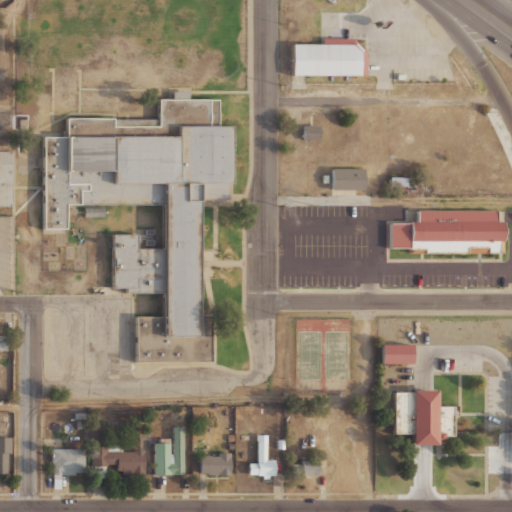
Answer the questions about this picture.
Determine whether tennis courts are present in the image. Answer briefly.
Yes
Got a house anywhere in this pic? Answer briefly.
Yes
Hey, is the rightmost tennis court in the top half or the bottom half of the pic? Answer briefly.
bottom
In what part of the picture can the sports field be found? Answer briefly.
top left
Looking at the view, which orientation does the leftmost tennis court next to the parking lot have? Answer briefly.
from top to bottom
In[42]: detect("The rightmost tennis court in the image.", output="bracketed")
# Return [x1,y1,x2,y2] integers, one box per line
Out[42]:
[324,319,350,390]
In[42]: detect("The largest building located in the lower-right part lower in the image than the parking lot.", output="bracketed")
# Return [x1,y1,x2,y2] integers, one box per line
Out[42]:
[394,392,458,446]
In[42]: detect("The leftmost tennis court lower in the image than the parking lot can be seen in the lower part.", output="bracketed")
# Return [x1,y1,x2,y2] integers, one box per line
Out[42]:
[297,319,324,390]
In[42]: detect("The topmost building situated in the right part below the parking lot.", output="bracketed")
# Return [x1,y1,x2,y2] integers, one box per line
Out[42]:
[384,344,418,365]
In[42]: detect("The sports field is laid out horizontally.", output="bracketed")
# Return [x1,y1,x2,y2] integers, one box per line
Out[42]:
[31,0,243,88]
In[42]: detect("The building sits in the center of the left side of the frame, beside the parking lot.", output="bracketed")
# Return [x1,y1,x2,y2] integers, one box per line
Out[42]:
[42,91,236,362]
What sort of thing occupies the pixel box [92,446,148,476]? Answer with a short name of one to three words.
house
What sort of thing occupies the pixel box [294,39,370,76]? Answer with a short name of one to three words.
building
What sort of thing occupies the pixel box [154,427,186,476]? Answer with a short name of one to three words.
house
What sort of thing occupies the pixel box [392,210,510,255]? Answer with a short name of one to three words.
building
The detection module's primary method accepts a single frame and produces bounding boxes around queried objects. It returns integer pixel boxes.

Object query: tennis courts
[324,319,350,390]
[297,319,324,390]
